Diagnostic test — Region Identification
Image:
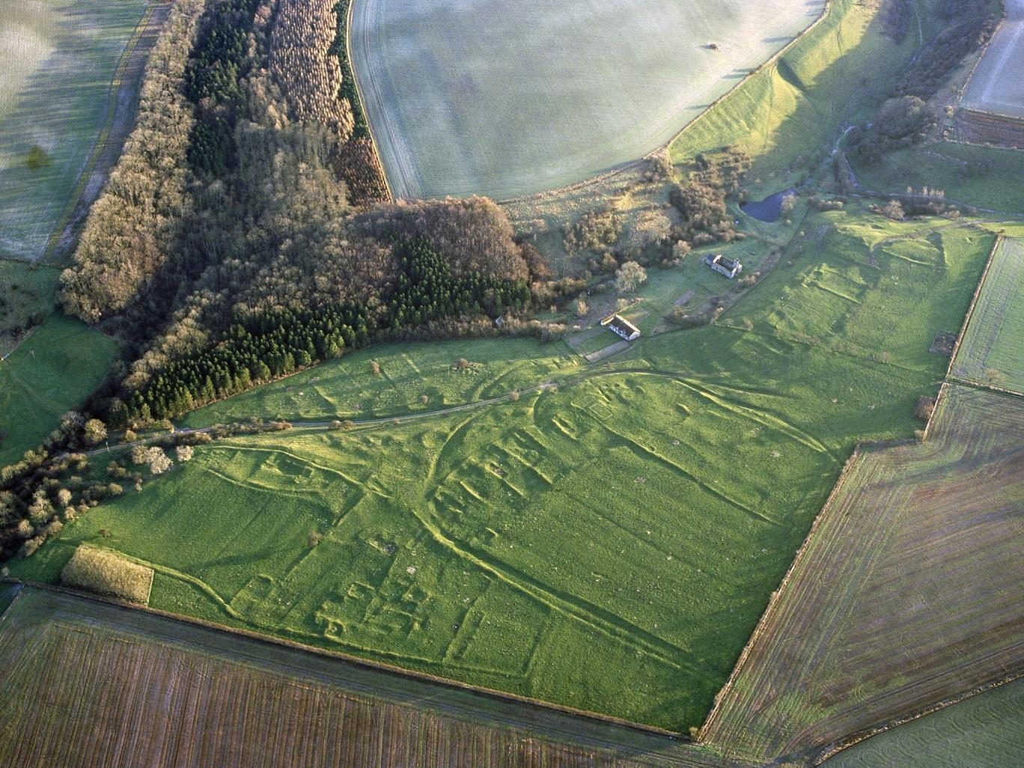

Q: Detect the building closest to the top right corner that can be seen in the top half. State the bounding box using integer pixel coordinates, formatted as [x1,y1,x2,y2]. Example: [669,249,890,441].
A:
[706,254,744,280]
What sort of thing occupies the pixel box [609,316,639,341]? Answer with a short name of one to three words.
house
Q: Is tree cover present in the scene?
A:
Yes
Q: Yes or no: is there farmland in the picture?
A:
Yes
